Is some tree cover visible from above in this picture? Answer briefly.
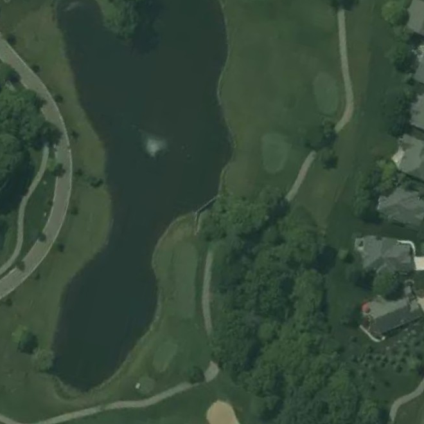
Yes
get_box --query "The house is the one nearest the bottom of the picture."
[364,290,424,340]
